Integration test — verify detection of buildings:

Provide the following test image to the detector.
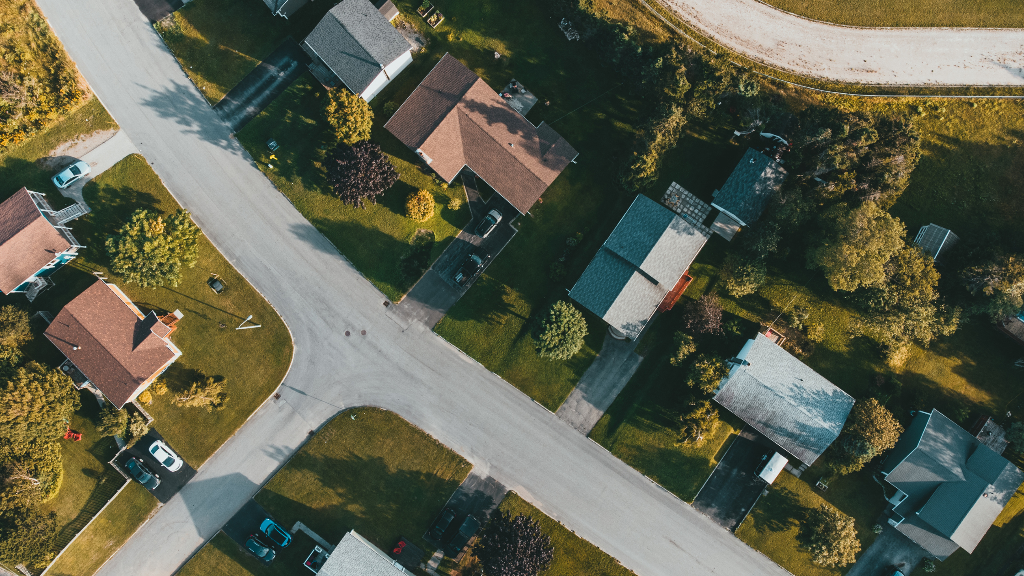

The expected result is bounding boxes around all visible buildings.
[566,193,707,341]
[913,223,960,267]
[870,406,1024,562]
[0,187,88,303]
[36,279,186,409]
[303,524,425,576]
[710,327,855,467]
[384,52,580,215]
[293,0,413,100]
[710,147,789,228]
[261,0,306,21]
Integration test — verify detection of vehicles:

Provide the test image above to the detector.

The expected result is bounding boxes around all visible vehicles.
[242,533,278,564]
[473,206,503,241]
[756,444,790,488]
[147,437,183,474]
[450,245,490,290]
[882,560,904,576]
[444,512,482,560]
[259,516,293,549]
[51,158,92,189]
[124,455,161,492]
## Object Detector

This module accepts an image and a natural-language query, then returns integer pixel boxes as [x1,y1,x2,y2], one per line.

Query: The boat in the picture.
[759,129,790,143]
